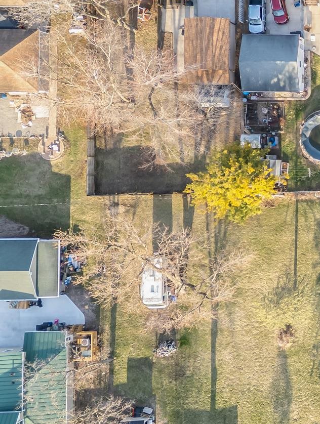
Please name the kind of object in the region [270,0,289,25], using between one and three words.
car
